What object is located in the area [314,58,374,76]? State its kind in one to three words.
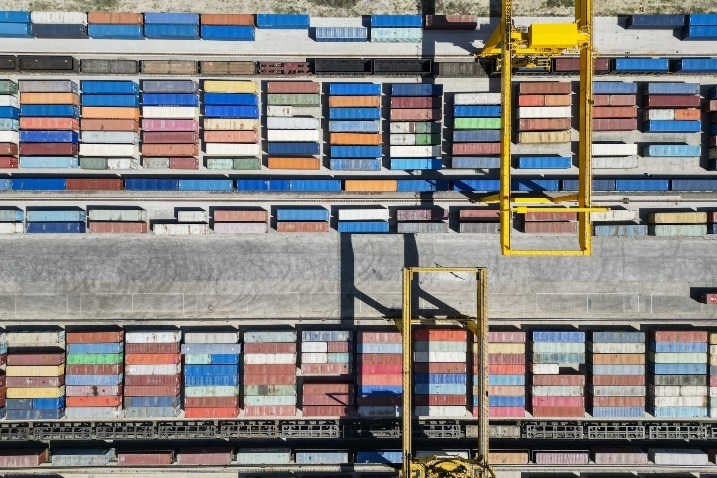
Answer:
rail car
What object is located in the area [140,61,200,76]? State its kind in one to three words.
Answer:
rail car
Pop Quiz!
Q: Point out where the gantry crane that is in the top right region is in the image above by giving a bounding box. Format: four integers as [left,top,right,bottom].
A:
[469,0,611,255]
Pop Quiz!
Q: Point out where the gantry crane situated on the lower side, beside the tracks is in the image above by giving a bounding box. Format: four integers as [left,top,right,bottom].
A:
[383,267,492,478]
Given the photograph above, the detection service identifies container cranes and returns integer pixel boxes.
[383,267,492,478]
[469,0,611,255]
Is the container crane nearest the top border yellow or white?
yellow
